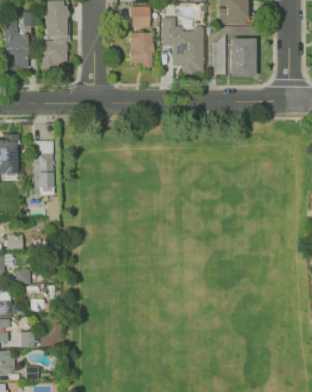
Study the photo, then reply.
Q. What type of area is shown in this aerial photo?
sports ground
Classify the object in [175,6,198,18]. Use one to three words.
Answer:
swimming pool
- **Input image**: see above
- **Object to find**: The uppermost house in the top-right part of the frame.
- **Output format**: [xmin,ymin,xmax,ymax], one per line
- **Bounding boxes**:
[219,0,250,26]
